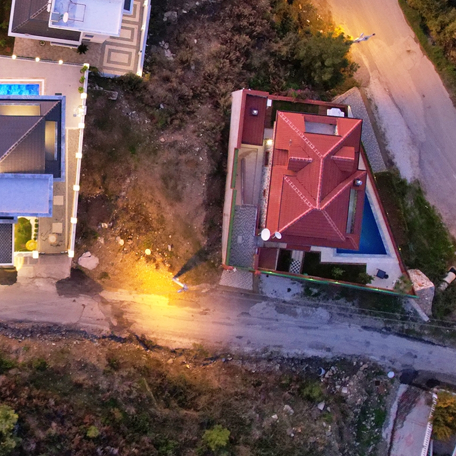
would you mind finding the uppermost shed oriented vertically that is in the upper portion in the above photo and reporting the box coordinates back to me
[241,95,267,146]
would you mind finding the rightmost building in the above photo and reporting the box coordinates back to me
[256,110,368,250]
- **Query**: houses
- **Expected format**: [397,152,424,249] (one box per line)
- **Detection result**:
[7,0,134,50]
[0,96,65,223]
[256,110,368,250]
